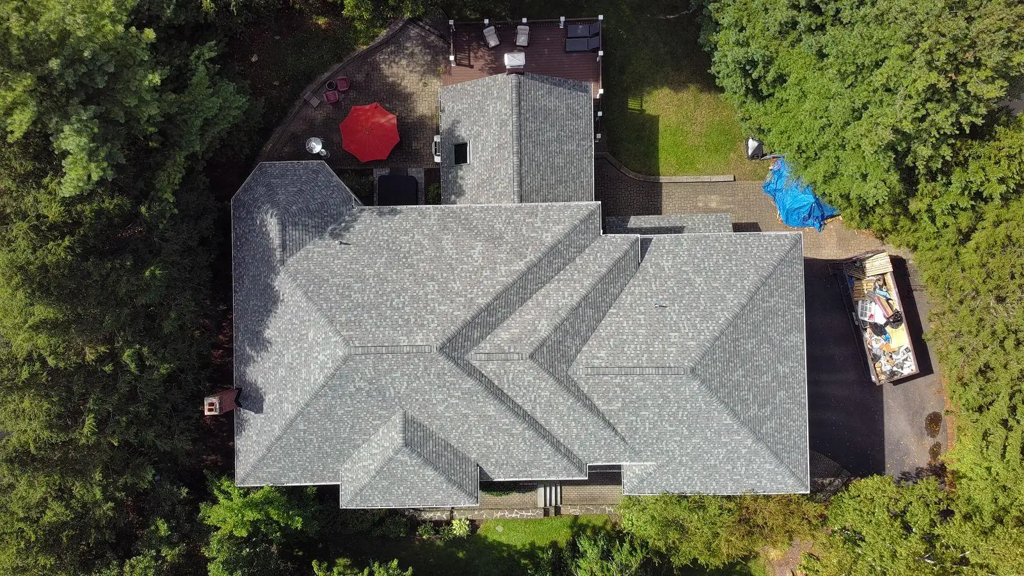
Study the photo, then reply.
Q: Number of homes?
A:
1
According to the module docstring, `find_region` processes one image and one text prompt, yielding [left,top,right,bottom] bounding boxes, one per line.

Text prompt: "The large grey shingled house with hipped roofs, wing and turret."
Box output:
[204,72,811,511]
